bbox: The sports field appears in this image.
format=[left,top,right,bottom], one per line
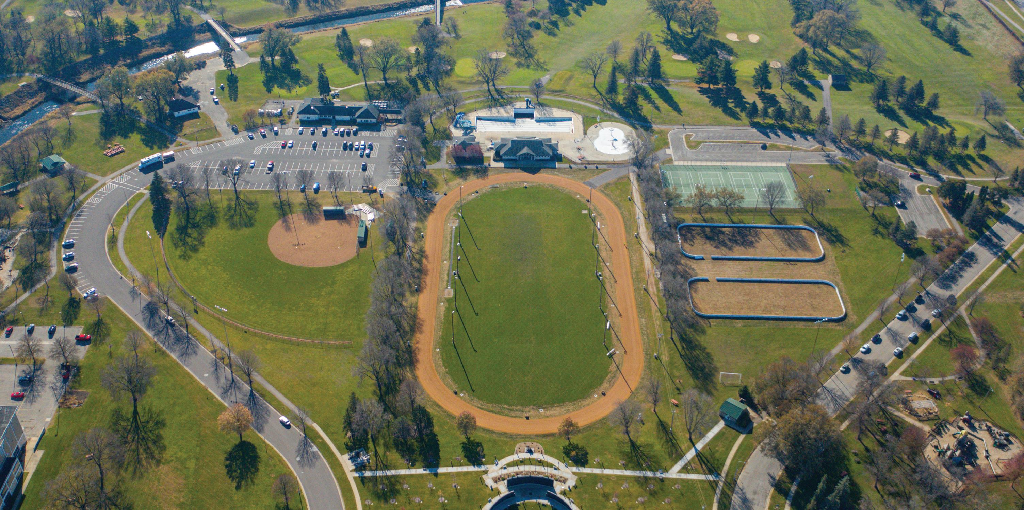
[440,185,612,407]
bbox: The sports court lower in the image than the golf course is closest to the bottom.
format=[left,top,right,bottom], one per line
[688,277,847,320]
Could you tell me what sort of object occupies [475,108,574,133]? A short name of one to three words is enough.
swimming pool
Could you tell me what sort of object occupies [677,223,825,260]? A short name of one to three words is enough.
sports court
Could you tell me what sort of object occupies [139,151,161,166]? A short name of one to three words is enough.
camper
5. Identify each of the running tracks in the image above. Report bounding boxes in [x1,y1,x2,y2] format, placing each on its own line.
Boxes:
[414,172,644,434]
